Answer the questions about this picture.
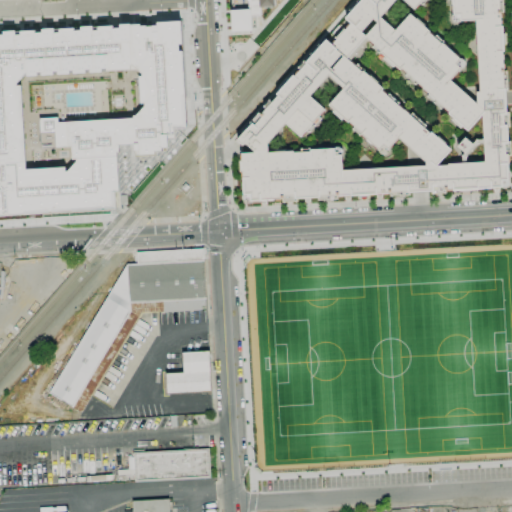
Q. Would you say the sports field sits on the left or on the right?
right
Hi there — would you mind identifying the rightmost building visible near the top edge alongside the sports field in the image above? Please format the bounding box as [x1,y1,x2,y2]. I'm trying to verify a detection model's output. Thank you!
[237,0,512,203]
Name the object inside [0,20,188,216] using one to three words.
building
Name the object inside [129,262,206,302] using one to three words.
building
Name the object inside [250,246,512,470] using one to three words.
sports field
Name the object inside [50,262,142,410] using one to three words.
shed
